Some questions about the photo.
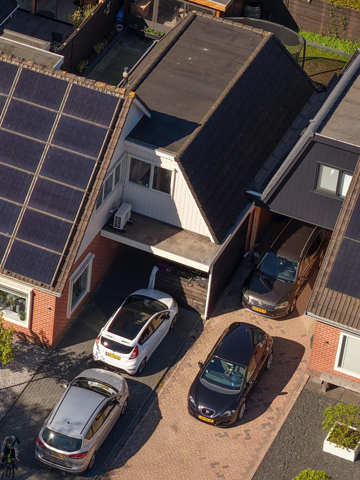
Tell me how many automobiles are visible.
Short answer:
4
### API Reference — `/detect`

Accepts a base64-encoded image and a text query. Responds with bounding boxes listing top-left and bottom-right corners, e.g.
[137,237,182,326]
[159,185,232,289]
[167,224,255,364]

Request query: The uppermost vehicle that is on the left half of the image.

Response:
[92,283,181,378]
